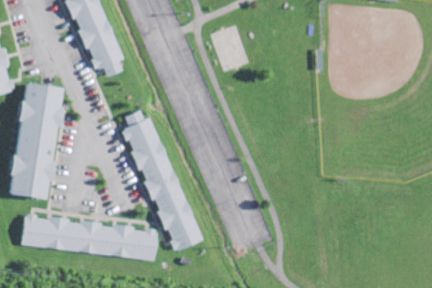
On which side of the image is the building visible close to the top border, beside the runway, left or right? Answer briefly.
left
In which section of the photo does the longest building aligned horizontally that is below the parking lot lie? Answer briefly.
bottom left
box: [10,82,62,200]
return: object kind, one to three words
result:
building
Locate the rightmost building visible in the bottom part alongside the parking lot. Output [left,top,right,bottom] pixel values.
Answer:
[123,117,203,252]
